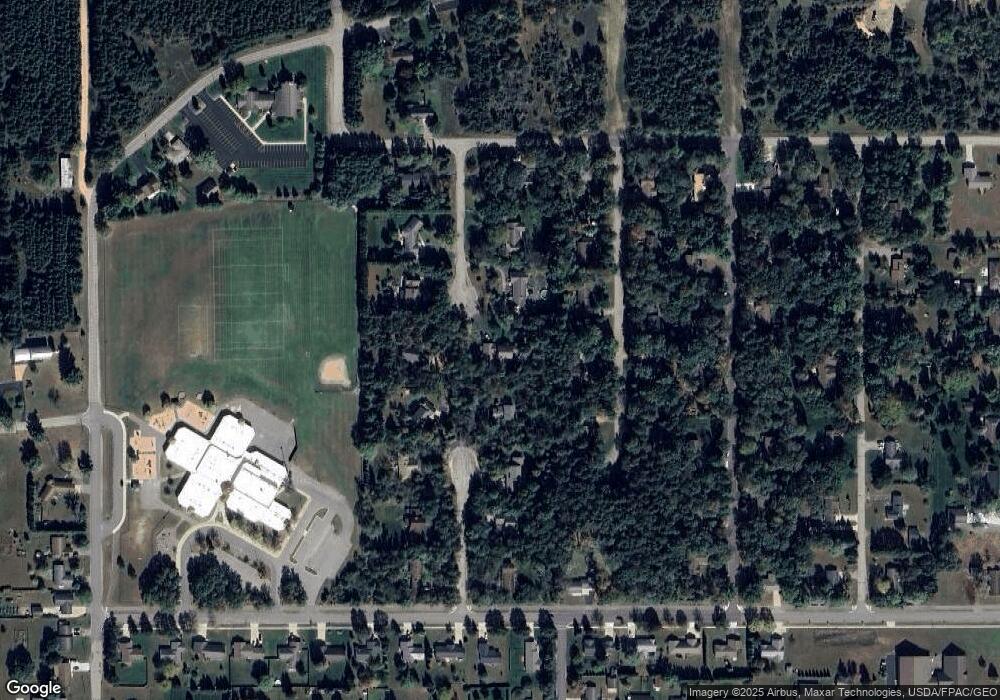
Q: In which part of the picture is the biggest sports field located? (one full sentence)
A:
The biggest sports field sits in the left section of the image.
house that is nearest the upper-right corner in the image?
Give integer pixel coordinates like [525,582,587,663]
[965,168,993,188]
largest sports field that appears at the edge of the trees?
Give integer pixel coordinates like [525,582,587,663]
[104,197,354,404]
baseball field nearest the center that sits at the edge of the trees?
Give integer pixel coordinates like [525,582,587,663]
[316,353,354,391]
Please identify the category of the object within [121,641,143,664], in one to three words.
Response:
house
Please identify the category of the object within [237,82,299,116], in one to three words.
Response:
building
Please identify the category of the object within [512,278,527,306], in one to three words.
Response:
house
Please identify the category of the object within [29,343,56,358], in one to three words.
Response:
barn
